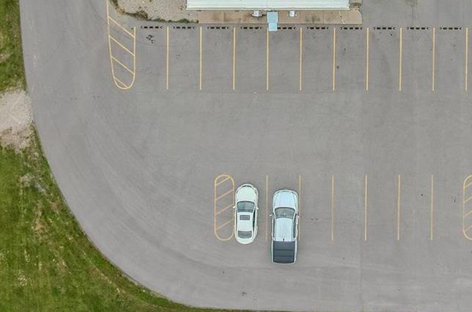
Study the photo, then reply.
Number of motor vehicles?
2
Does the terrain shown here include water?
No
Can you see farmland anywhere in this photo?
No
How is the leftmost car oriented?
vertically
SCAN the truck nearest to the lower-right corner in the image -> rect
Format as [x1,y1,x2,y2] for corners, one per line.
[269,191,299,266]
